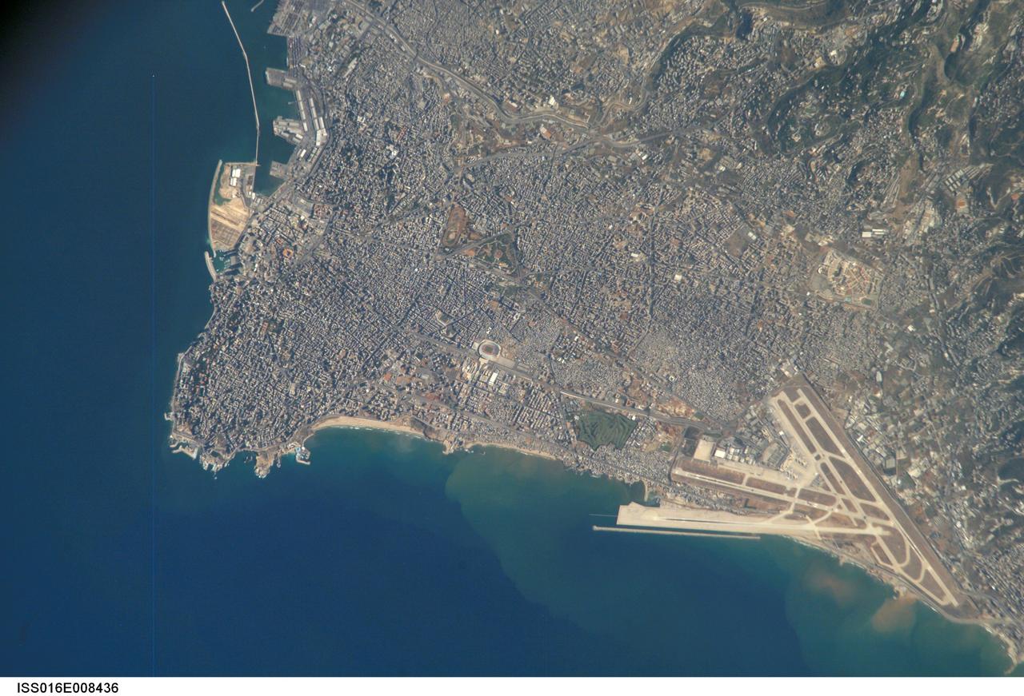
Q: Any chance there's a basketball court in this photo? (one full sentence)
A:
No, there is no basketball court in the image.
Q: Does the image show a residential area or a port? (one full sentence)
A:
The picture captures a port.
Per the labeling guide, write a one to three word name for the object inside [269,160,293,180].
pier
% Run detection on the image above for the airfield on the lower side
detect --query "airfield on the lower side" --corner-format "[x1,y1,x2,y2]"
[617,373,979,620]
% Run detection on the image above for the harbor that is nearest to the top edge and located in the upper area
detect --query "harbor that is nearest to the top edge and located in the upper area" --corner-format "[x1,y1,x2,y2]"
[266,0,322,188]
